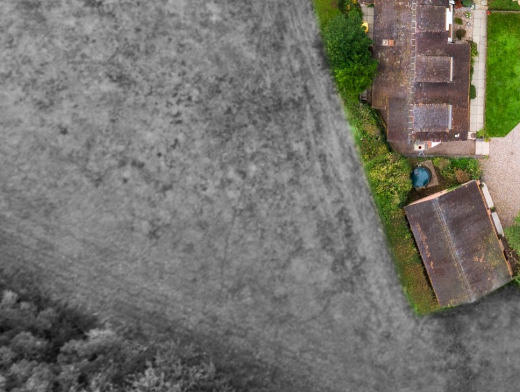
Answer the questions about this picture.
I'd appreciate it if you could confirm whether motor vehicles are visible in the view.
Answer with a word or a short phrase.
No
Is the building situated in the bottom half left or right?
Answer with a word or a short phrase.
right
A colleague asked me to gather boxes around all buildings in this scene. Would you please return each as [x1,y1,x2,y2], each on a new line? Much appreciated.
[404,179,514,307]
[357,0,477,157]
